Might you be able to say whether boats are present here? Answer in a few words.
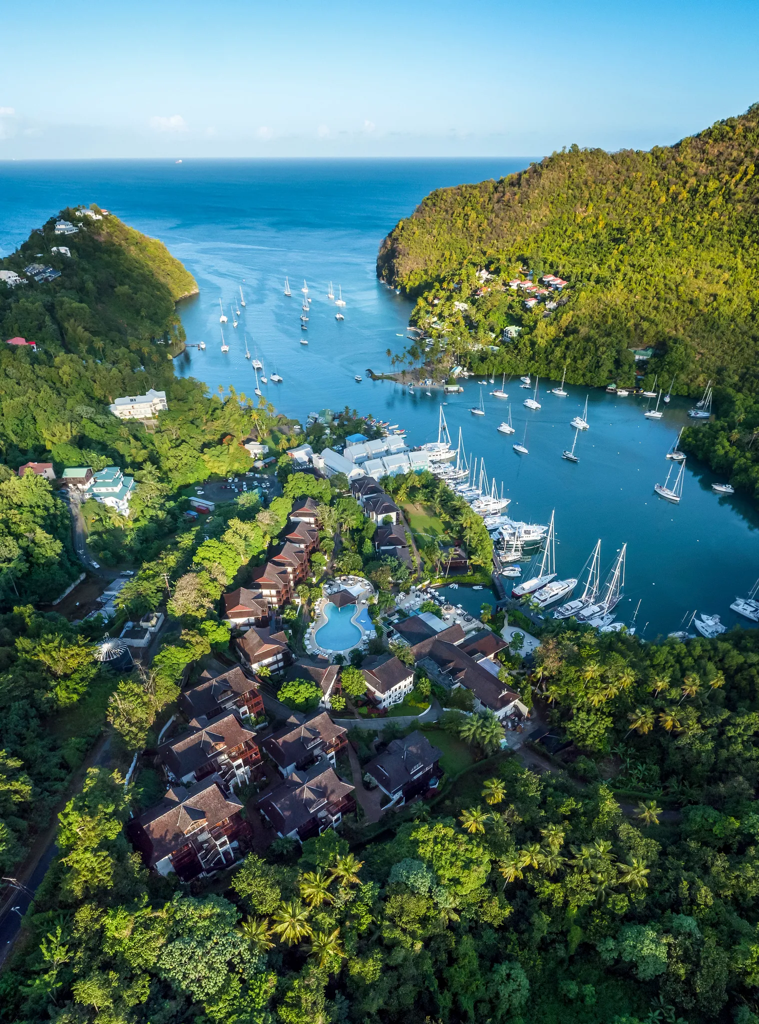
Yes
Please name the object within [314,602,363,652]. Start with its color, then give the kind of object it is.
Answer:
blue swimming pool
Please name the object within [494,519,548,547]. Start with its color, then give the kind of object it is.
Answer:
white boat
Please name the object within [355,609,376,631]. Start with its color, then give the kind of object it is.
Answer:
blue swimming pool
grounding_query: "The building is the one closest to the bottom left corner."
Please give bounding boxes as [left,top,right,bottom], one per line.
[128,769,259,877]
